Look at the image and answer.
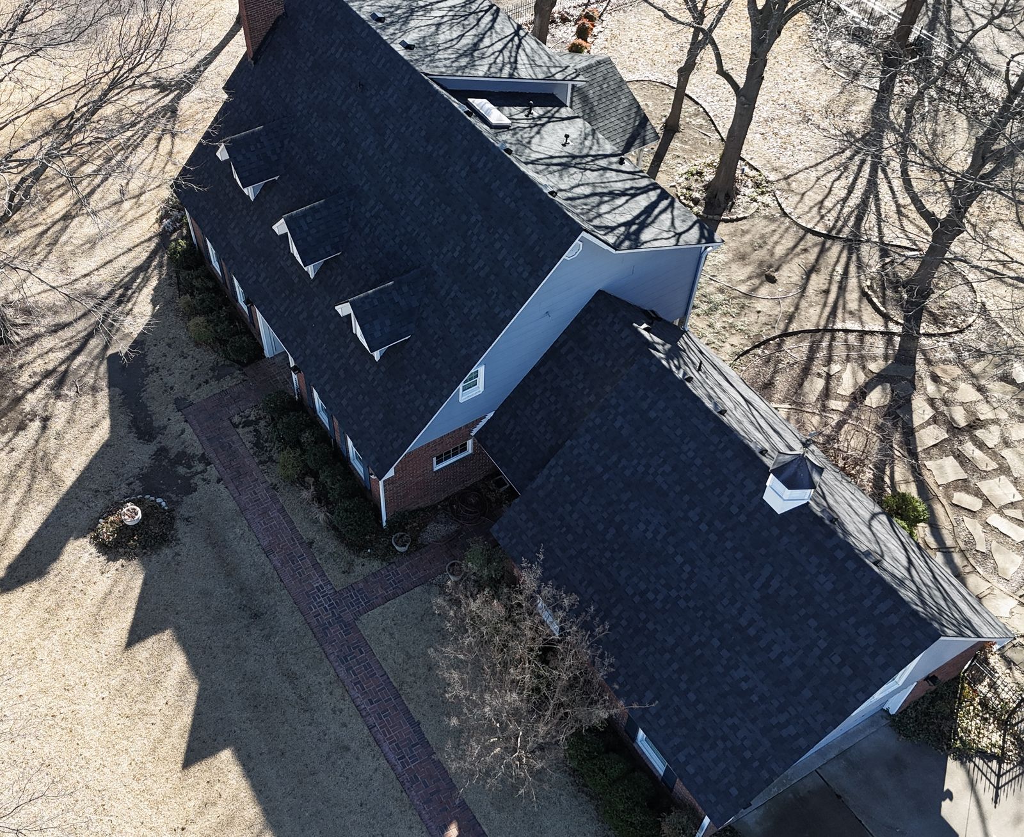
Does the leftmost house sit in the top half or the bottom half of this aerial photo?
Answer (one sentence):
You can find the leftmost house in the top half.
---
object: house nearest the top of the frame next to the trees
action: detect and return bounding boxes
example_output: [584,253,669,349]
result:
[171,0,722,528]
